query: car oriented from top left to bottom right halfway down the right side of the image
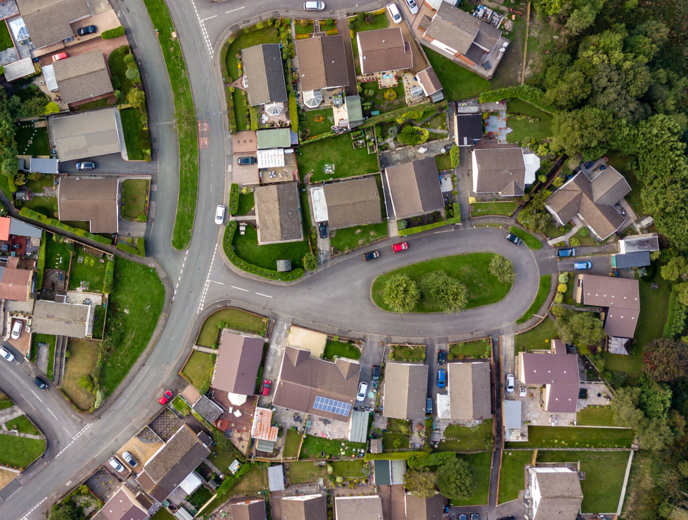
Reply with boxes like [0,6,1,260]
[504,232,522,246]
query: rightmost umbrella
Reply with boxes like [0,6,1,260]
[229,393,246,411]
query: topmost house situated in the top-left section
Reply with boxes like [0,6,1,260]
[9,0,93,50]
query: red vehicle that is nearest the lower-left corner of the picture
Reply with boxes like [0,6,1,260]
[158,389,172,405]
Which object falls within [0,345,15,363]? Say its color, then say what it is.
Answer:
white car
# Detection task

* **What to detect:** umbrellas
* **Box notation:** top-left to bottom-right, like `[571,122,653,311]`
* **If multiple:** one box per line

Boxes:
[27,237,39,248]
[229,393,246,411]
